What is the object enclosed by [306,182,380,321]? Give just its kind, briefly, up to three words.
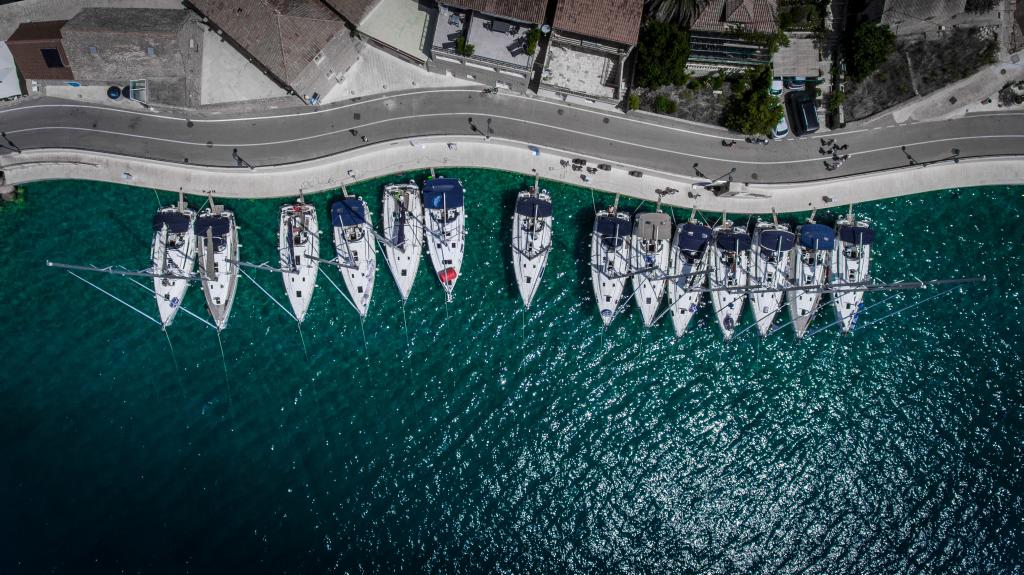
boat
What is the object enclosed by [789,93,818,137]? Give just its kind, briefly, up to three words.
car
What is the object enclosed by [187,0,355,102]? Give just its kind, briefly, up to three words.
house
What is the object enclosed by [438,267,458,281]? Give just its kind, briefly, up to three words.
boat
